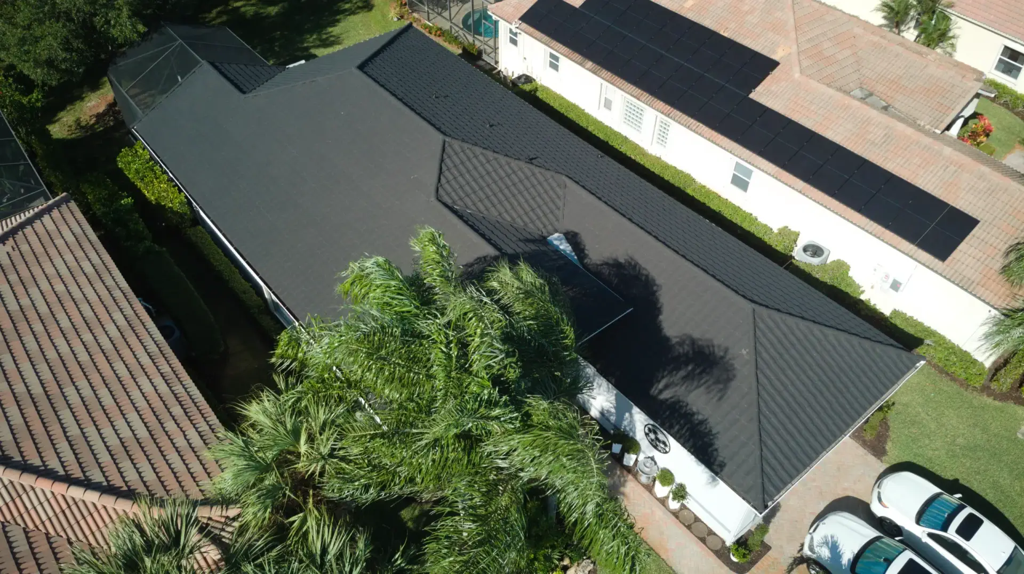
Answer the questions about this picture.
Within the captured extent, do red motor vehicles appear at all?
No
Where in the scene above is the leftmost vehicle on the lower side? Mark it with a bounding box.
[796,505,941,574]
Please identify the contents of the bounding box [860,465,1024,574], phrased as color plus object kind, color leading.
white car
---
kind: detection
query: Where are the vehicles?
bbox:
[796,505,941,574]
[860,465,1024,574]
